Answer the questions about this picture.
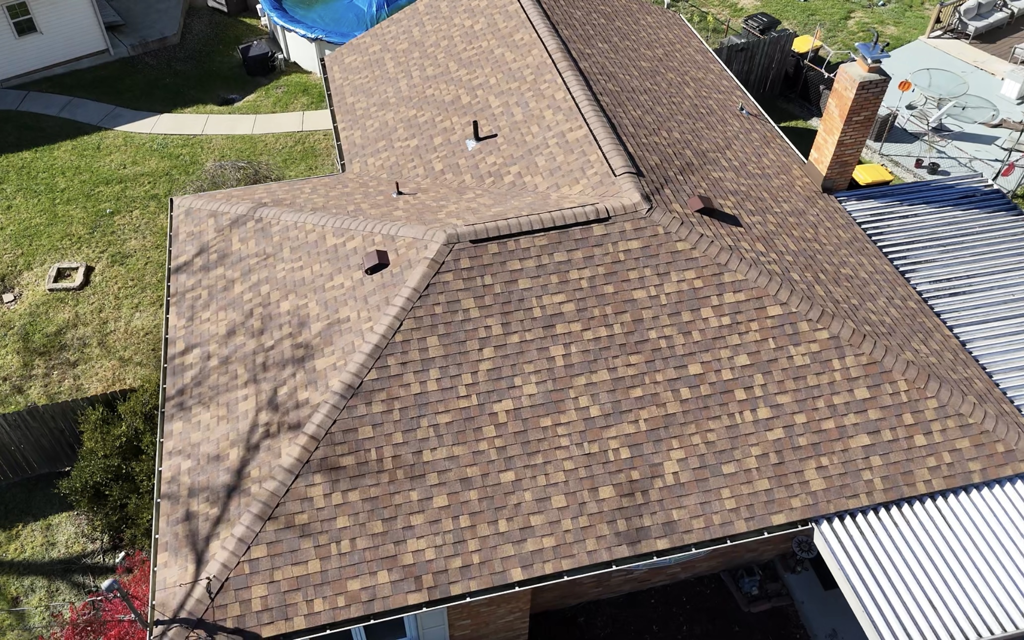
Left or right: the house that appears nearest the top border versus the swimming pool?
to the left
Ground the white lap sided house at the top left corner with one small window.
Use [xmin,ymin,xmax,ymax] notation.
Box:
[0,0,115,85]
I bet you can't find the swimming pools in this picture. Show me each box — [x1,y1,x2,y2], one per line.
[255,0,410,77]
